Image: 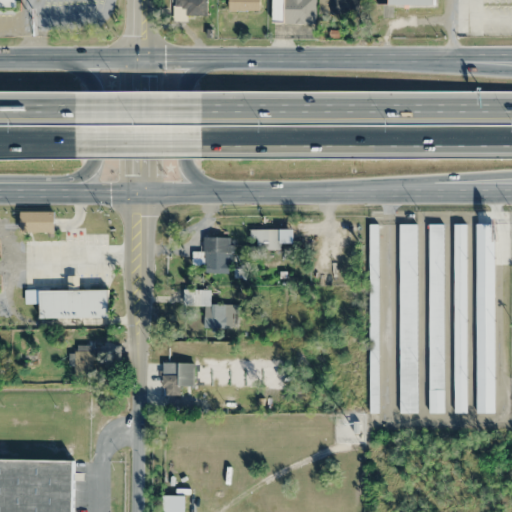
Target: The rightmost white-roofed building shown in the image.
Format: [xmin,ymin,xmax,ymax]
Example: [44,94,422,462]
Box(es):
[476,224,496,414]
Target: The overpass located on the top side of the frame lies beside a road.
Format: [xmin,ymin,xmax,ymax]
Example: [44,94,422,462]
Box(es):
[0,90,512,160]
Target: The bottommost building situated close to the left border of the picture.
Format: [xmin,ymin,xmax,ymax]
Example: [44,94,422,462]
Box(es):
[0,461,74,512]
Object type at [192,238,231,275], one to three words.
house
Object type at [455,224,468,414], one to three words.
building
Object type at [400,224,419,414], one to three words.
building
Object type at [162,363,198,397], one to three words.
house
